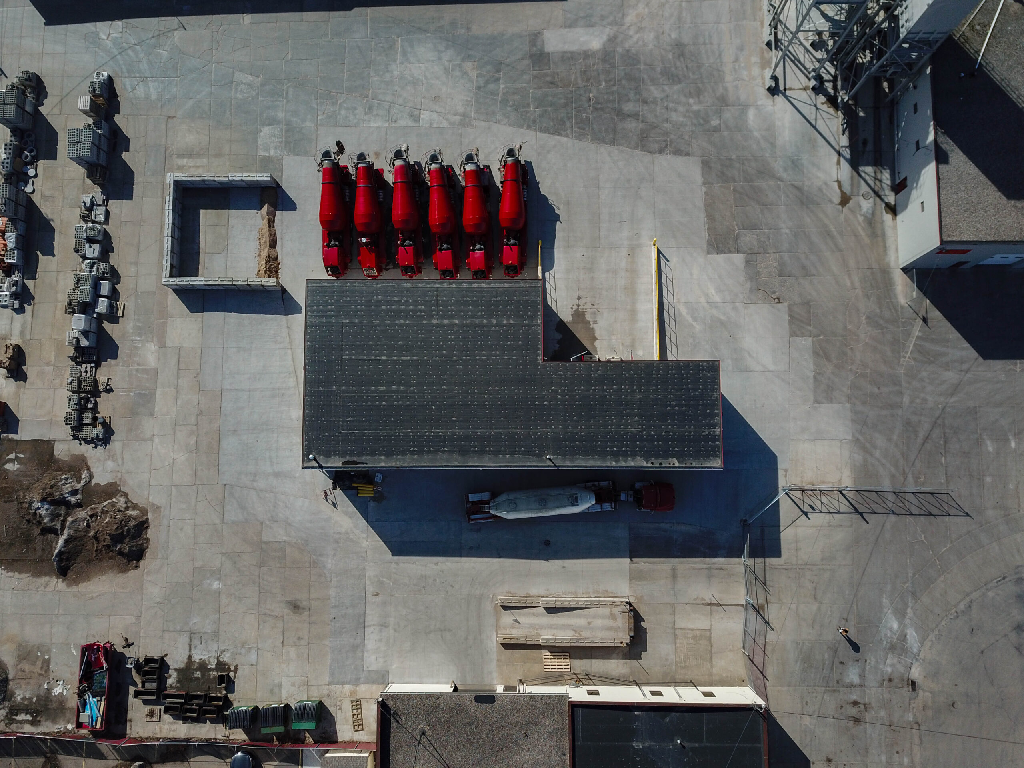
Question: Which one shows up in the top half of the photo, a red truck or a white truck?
red truck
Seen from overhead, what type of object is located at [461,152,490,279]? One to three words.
truck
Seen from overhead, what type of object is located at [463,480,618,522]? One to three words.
trailer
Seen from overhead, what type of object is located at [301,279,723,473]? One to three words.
building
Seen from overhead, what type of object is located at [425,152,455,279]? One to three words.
truck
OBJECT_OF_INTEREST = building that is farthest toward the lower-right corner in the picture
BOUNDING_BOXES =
[569,684,773,768]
